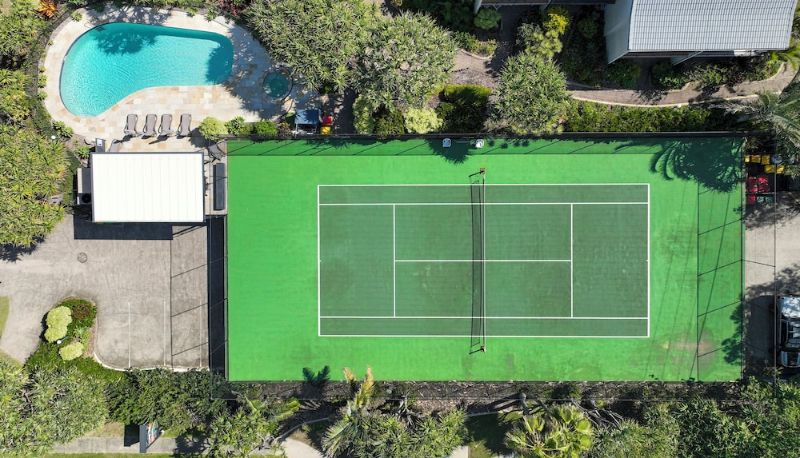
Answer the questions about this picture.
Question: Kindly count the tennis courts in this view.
1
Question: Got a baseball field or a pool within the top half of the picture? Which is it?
pool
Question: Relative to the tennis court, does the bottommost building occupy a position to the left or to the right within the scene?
to its left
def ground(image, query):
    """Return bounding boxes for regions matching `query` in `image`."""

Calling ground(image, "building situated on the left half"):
[91,152,216,223]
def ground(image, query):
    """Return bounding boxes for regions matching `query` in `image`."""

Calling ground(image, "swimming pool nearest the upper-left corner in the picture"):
[55,18,238,121]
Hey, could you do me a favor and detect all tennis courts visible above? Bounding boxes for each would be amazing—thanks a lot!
[223,138,745,384]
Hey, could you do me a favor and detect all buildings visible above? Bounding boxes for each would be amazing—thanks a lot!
[606,0,797,65]
[91,152,216,223]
